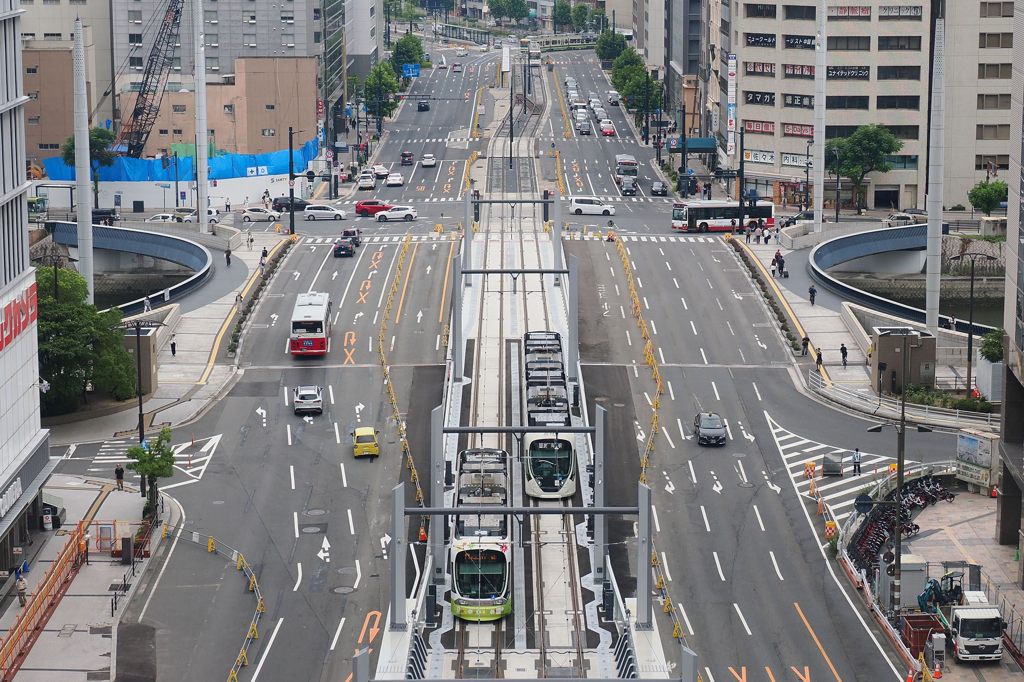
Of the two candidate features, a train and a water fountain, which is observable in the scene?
train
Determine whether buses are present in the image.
Yes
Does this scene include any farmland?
No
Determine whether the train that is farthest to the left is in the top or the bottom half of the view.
bottom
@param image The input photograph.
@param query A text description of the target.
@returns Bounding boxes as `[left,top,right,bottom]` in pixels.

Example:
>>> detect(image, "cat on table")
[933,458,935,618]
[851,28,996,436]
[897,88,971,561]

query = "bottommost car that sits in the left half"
[353,426,385,459]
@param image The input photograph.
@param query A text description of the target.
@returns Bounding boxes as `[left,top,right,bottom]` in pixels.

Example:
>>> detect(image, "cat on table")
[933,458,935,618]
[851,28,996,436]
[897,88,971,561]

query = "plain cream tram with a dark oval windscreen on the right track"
[522,332,575,496]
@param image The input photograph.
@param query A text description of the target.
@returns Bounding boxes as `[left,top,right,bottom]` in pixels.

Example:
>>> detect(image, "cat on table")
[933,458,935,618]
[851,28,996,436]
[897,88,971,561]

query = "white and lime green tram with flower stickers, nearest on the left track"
[450,453,511,618]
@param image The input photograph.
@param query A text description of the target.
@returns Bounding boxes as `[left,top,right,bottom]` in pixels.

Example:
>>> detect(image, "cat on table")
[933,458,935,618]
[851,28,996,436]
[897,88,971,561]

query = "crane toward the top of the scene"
[85,0,194,160]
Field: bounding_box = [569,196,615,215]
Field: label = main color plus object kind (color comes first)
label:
white car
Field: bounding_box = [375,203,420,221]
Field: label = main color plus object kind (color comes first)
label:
white car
